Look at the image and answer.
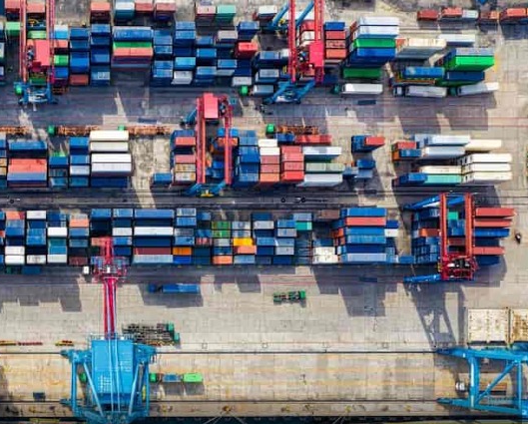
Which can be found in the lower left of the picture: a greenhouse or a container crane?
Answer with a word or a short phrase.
container crane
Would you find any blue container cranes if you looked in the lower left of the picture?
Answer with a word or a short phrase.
Yes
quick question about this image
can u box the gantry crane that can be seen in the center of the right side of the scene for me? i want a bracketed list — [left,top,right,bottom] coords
[399,193,476,285]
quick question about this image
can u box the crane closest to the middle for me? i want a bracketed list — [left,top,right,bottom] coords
[182,93,232,197]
